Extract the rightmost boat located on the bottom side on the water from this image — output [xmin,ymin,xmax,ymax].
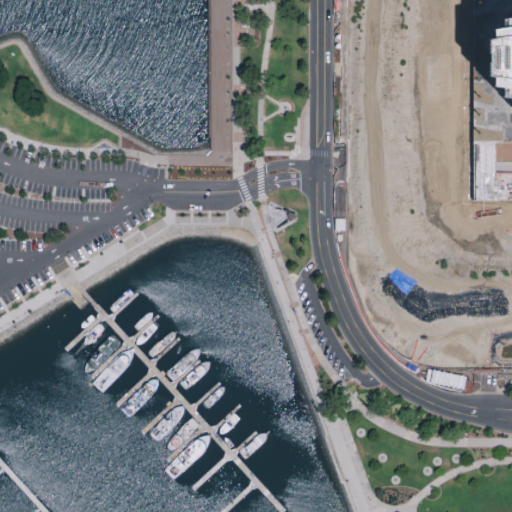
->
[239,431,268,459]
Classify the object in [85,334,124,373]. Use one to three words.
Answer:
boat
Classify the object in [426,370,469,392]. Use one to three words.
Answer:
building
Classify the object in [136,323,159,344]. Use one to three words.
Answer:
boat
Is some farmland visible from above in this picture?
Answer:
No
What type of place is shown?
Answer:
port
